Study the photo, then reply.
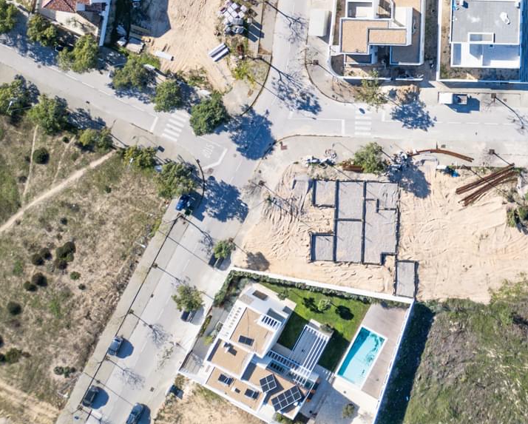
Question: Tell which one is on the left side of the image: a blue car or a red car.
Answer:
blue car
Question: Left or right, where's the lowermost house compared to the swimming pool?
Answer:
to the left of it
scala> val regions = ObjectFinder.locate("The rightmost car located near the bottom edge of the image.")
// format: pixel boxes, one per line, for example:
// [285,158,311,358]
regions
[128,402,147,424]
